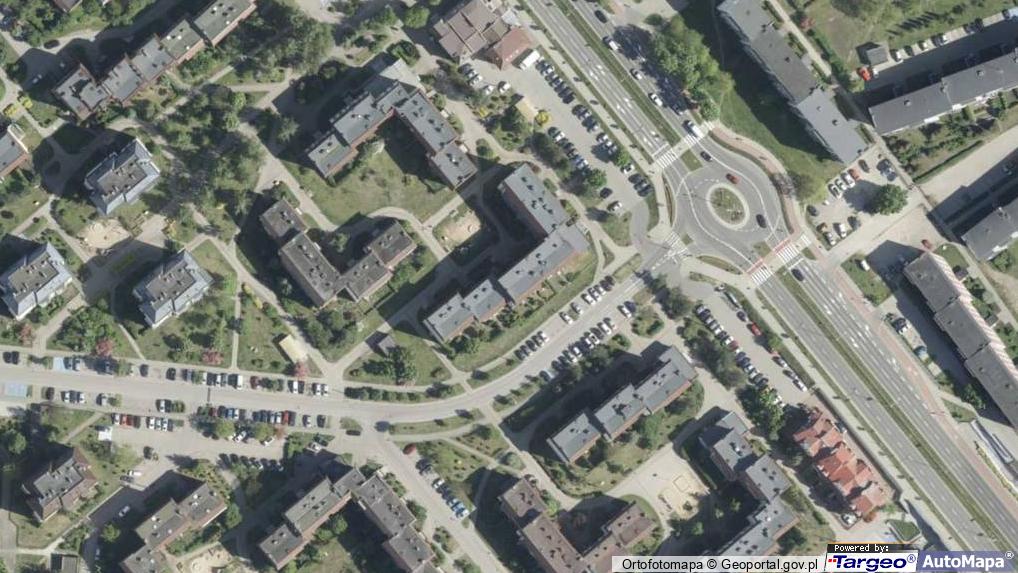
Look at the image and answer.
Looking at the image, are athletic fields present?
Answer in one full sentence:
No, the frame has no athletic field in it.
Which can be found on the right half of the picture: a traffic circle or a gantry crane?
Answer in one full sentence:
The one visible on the right half of the picture is a traffic circle.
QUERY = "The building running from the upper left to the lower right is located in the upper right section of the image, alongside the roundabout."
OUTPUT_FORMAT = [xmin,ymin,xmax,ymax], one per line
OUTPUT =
[715,0,868,175]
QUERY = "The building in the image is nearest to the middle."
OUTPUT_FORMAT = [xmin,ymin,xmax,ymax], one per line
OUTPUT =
[421,164,590,349]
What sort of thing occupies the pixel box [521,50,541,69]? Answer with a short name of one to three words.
vehicle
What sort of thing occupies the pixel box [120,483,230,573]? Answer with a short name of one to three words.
building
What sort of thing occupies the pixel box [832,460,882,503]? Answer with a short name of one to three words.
house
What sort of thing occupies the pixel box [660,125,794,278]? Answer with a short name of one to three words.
roundabout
